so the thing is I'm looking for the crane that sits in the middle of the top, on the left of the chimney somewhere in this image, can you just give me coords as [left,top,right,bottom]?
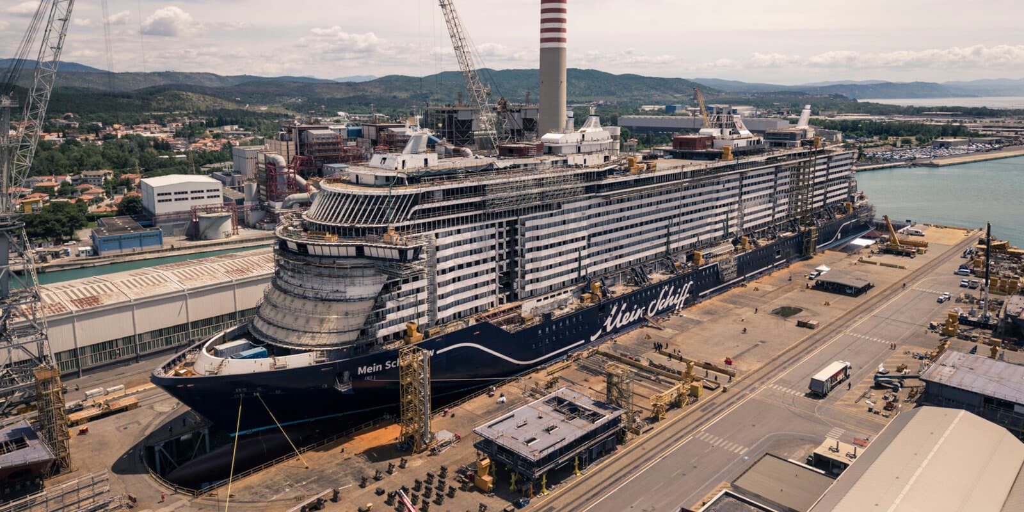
[418,0,518,141]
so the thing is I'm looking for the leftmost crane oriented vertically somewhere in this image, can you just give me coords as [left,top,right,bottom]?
[0,0,150,429]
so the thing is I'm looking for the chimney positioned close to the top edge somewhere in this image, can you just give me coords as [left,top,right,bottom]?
[539,0,567,128]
